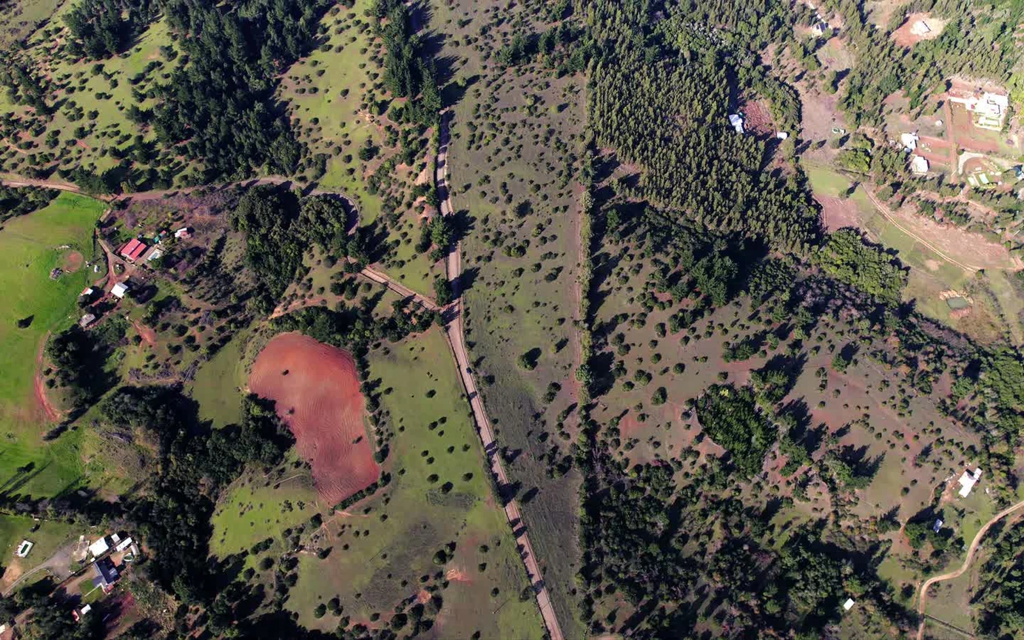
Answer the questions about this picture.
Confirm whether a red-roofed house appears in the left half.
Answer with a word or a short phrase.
Yes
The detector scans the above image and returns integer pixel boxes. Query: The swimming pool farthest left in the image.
[19,540,35,557]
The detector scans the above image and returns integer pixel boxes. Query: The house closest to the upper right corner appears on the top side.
[964,93,1010,129]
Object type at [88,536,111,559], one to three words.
barn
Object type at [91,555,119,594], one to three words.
house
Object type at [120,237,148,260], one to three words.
house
